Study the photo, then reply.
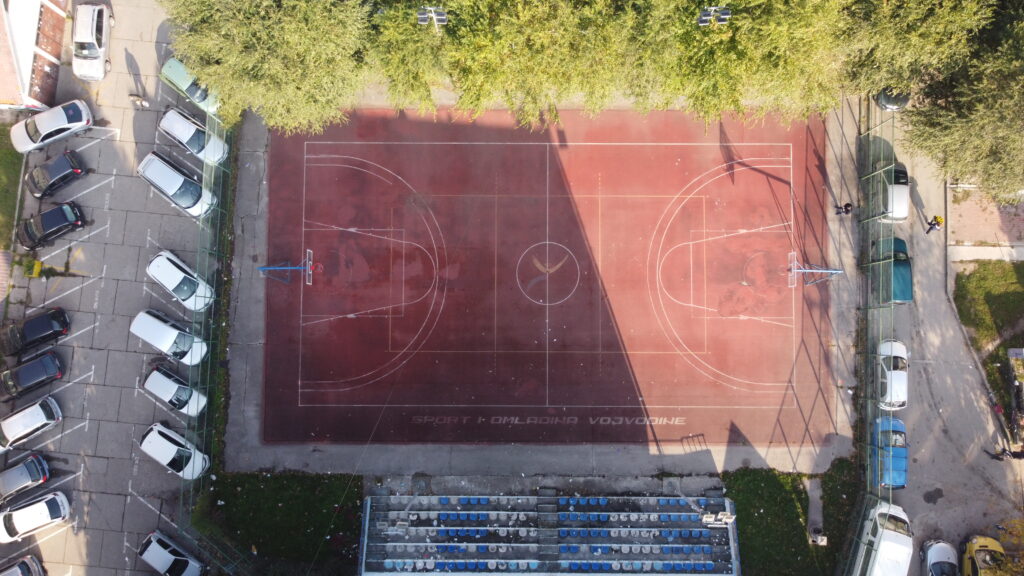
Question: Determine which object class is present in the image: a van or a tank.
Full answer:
I can see a van in this picture.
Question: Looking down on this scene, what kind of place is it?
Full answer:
This looks like a sports ground.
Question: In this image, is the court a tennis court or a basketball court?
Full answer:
The court is a basketball court.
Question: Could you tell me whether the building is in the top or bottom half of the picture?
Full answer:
The building is in the top half of the image.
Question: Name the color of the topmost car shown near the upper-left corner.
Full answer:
The topmost car shown near the upper-left corner is white.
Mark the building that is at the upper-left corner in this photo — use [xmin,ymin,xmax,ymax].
[0,0,68,125]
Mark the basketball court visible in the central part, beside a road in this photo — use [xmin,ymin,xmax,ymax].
[261,109,837,448]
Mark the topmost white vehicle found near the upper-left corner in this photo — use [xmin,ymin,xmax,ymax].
[71,11,115,84]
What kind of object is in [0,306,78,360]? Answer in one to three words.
car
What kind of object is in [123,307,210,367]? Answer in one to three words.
van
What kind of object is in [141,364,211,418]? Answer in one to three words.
car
